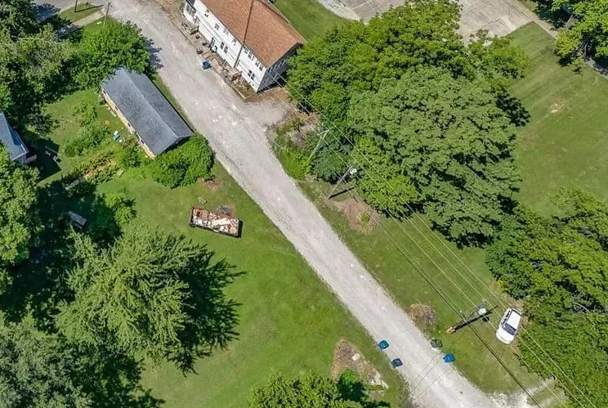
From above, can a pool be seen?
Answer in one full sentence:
No, the photo shows no pool.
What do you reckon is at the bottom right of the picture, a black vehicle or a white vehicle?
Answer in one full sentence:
Looking at the bottom right of the picture, you will find a white vehicle.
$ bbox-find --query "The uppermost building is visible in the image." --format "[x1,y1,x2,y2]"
[180,0,308,92]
